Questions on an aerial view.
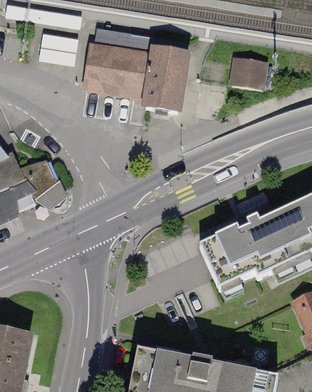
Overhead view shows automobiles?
Yes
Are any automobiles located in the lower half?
Yes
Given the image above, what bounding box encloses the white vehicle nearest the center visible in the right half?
[214,166,240,184]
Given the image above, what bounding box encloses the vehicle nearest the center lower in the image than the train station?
[162,160,188,179]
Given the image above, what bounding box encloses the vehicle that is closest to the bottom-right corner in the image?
[188,290,204,314]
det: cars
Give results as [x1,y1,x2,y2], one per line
[188,290,204,314]
[114,344,126,367]
[103,97,114,119]
[214,166,240,184]
[0,229,10,242]
[42,134,62,156]
[164,300,180,324]
[87,93,98,118]
[0,32,6,56]
[119,99,130,123]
